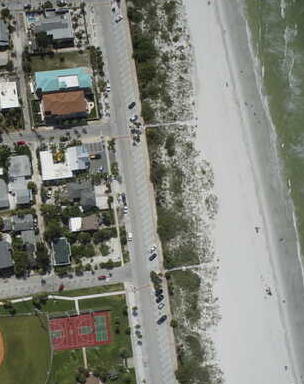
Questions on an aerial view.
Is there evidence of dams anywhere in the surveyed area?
No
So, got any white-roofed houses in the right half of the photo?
No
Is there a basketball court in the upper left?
No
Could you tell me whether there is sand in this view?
Yes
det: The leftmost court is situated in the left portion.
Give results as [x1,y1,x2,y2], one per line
[50,311,97,349]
